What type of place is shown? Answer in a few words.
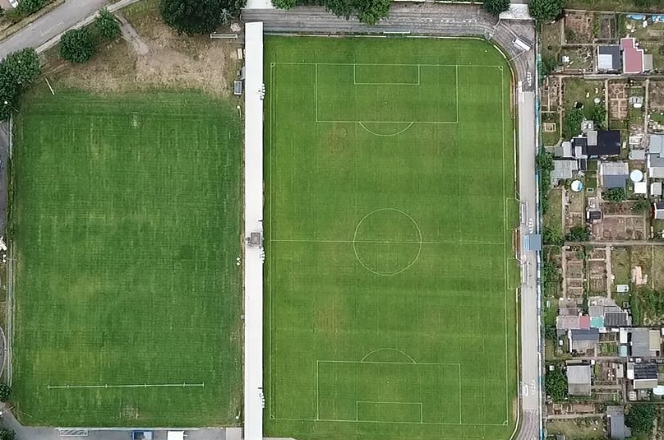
sports ground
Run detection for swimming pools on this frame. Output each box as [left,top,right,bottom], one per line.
[570,180,583,191]
[630,169,643,181]
[653,384,664,394]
